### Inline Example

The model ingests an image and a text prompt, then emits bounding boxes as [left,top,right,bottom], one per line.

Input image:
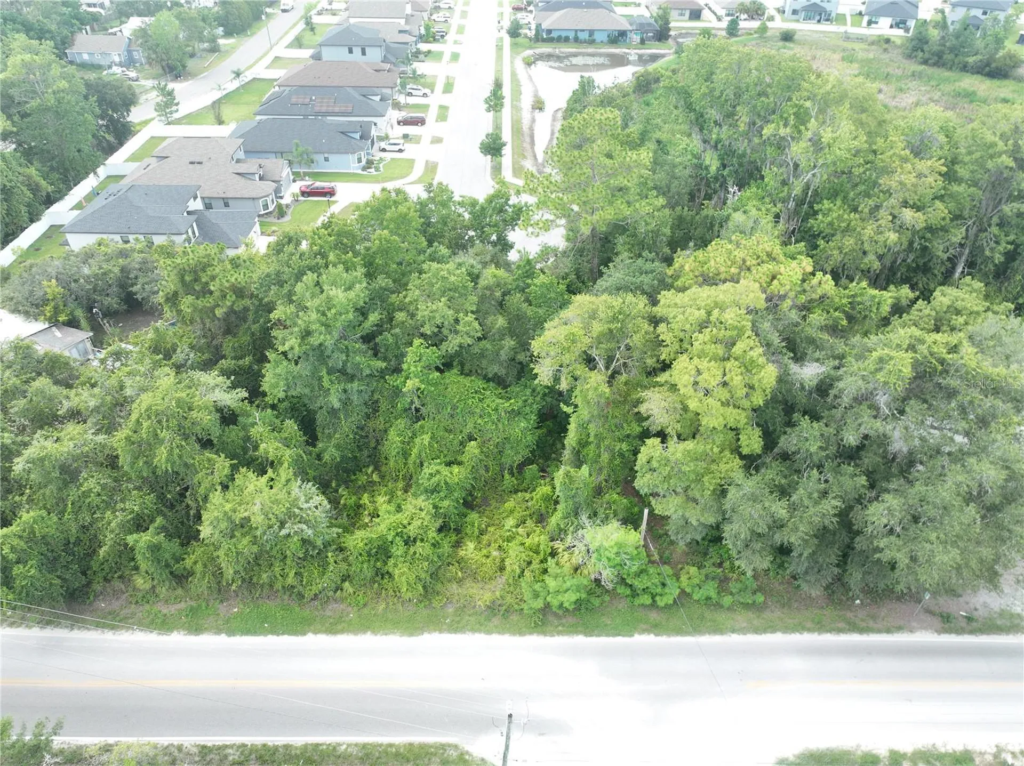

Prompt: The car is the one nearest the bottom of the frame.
[300,183,337,200]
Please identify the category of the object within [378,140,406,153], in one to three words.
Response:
vehicle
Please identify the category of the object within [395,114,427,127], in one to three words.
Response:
vehicle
